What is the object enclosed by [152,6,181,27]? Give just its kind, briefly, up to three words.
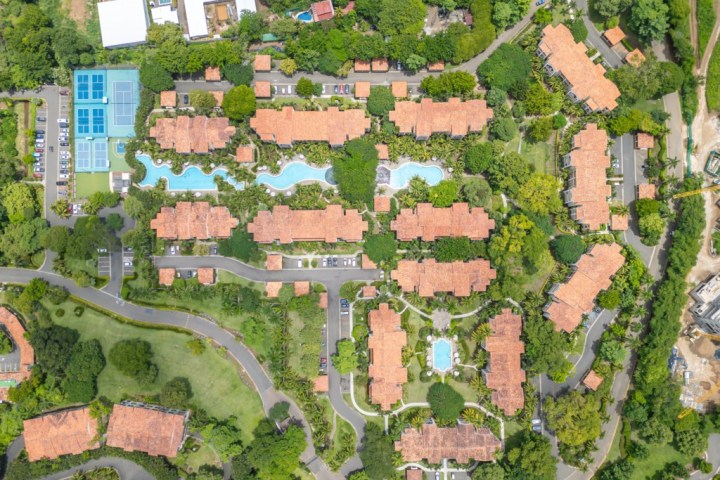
house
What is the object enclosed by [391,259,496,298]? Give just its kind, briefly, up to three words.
building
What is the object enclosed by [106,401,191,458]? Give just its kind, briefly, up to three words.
building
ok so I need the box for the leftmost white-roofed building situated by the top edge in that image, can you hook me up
[97,0,150,50]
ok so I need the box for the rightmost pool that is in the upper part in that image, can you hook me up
[377,162,444,190]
